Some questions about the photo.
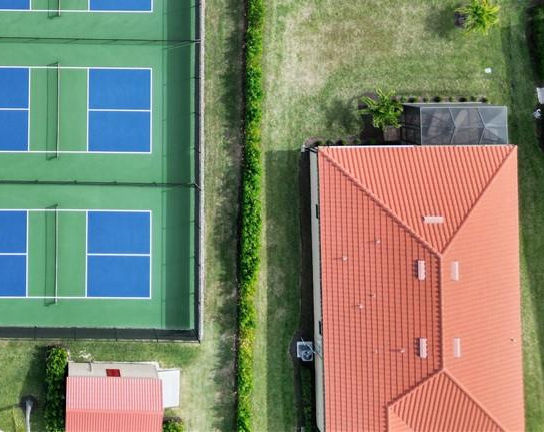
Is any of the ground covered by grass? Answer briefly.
Yes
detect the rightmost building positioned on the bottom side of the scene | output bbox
[308,143,526,432]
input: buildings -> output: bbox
[308,143,526,432]
[66,363,164,431]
